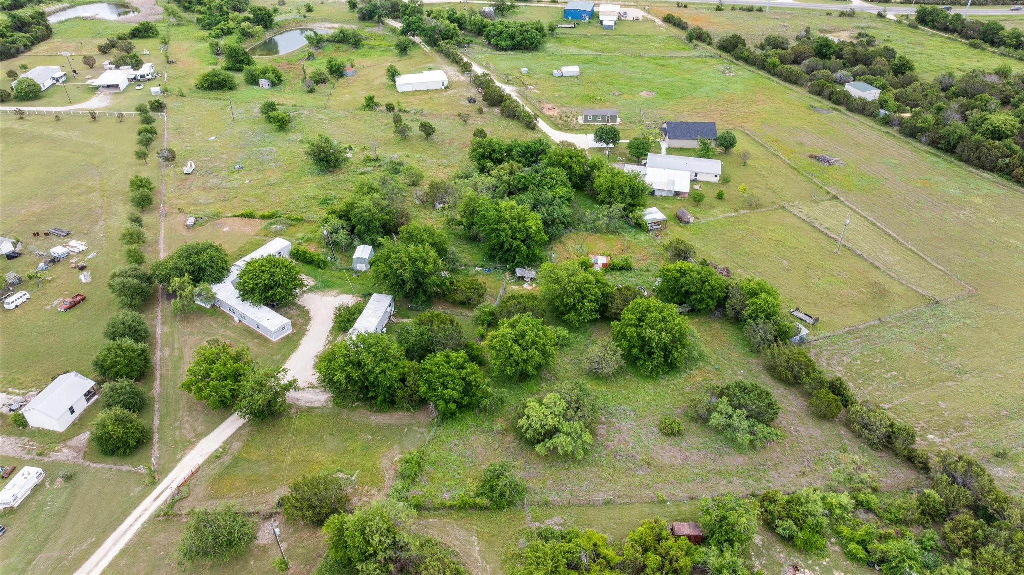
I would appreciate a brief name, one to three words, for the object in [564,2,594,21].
building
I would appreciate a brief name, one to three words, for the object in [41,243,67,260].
camper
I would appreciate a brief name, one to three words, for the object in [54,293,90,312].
vehicle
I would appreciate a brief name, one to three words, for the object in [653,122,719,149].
house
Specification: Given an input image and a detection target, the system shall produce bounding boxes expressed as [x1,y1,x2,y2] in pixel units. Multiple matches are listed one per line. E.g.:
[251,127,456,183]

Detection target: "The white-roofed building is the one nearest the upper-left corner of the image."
[27,68,71,91]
